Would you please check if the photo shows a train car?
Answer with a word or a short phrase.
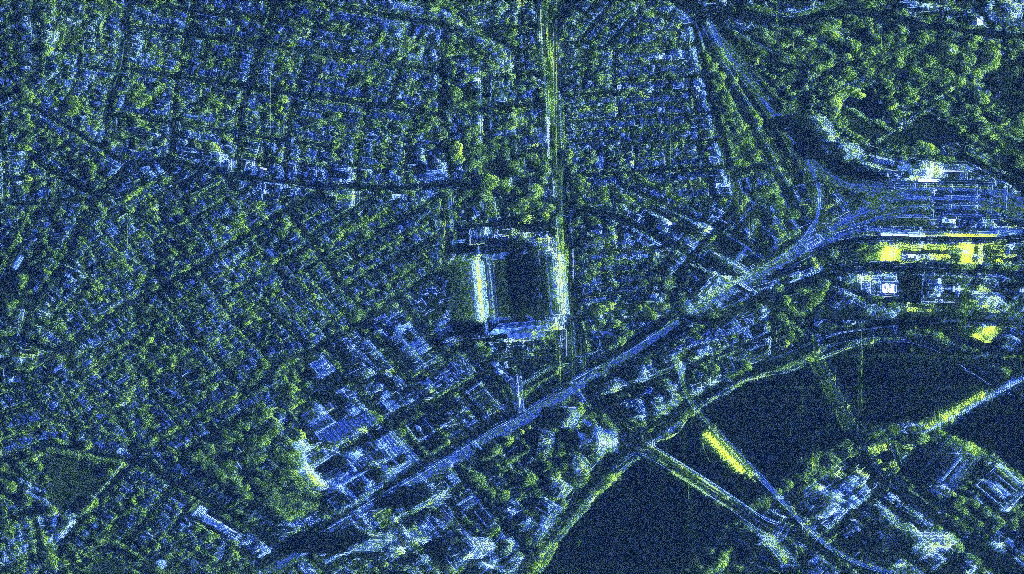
No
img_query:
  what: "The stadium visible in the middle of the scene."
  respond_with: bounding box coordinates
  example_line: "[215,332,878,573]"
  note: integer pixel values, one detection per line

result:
[450,237,571,342]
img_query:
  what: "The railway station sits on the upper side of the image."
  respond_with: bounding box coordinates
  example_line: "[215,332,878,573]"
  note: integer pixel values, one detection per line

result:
[902,185,1024,216]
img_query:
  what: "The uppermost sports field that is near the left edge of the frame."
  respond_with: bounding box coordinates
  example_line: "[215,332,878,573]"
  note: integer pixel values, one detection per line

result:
[44,454,119,512]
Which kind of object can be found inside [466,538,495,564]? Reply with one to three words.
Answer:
building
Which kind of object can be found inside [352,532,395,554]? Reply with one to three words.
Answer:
building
